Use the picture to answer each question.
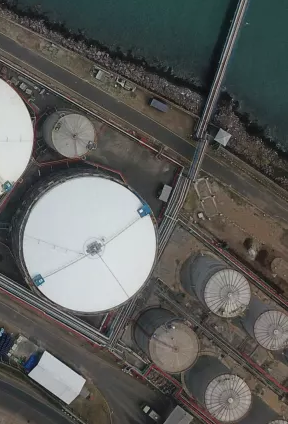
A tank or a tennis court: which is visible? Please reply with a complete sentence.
This aerial view contains a tank.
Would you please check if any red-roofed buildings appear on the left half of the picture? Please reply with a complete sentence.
No, I see no red-roofed building on the left half of the picture.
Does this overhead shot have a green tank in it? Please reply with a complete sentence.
No, there's no green tank here.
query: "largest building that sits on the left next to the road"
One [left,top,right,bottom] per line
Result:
[26,344,86,404]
